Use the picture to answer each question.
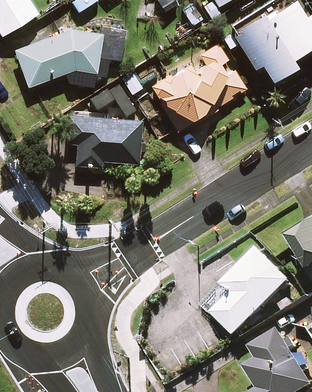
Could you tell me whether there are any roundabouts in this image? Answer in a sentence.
Yes, the picture does show a roundabout.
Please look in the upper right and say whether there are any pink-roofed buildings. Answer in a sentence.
No, no pink-roofed building can be made out in the upper right.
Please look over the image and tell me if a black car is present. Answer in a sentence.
Yes, a black car can be made out from above.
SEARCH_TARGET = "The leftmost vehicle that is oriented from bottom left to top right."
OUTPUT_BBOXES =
[202,200,225,218]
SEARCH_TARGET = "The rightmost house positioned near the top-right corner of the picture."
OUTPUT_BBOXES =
[236,0,312,84]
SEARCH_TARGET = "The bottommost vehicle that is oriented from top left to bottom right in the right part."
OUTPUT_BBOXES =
[182,132,202,156]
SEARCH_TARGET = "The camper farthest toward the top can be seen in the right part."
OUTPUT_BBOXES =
[182,4,204,27]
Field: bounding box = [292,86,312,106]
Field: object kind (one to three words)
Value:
car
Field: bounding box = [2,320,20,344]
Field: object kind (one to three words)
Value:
car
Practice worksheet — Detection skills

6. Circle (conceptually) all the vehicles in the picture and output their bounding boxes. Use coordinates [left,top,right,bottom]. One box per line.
[264,134,286,150]
[276,312,296,328]
[182,132,202,156]
[292,121,312,138]
[2,320,20,344]
[202,200,225,218]
[0,81,8,100]
[239,149,262,168]
[292,86,312,106]
[226,203,246,218]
